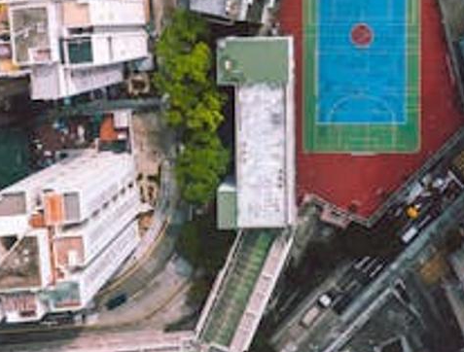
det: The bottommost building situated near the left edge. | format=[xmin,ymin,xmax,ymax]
[0,153,152,322]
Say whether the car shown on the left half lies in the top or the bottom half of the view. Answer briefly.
bottom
